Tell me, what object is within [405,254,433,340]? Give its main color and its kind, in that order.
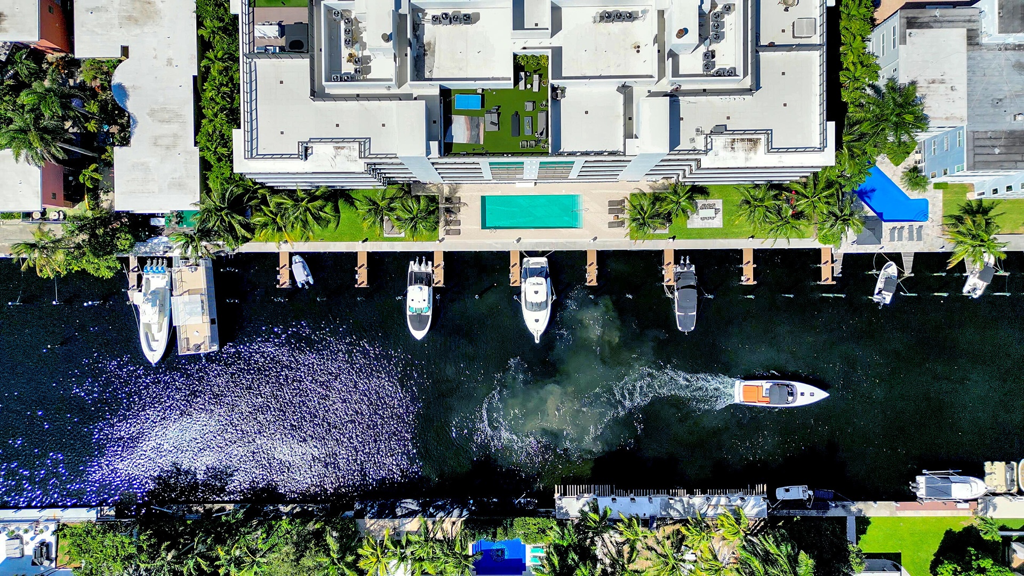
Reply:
white boat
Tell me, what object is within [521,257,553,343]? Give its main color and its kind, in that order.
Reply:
white boat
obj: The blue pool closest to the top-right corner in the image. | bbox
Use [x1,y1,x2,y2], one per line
[851,163,935,225]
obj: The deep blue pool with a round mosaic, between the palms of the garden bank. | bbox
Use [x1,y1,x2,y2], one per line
[469,536,528,576]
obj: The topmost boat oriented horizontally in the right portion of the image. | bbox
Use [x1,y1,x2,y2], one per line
[732,380,829,406]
